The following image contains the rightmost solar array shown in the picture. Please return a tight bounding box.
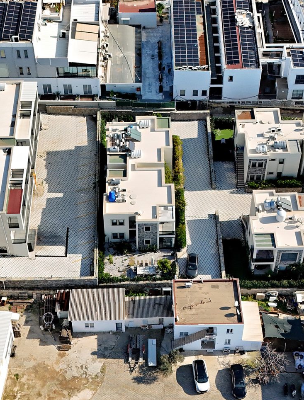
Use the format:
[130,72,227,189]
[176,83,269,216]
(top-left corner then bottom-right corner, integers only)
[291,50,304,67]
